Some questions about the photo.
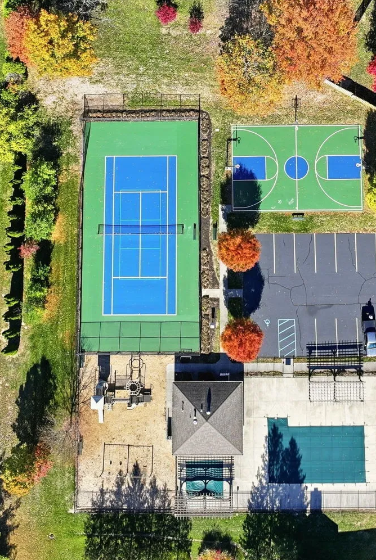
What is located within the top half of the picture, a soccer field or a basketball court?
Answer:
basketball court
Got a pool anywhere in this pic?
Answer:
Yes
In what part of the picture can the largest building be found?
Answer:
bottom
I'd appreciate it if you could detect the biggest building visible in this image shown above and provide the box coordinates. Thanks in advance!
[172,381,243,457]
